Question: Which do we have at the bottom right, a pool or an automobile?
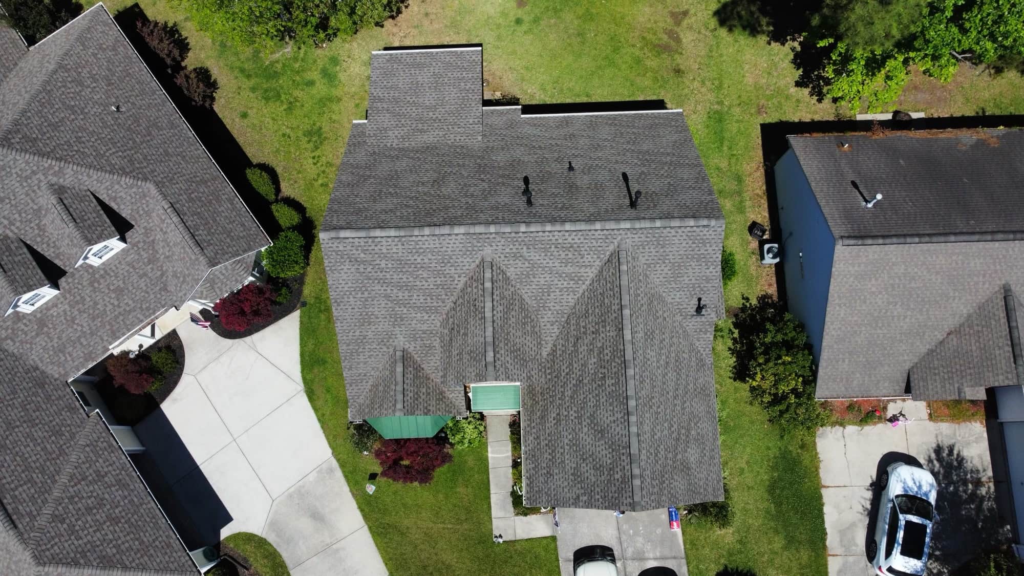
automobile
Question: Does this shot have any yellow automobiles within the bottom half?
No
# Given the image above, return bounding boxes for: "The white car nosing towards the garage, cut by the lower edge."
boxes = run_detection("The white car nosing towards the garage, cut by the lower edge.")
[571,555,623,576]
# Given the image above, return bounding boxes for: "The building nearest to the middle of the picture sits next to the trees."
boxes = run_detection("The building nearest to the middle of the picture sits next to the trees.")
[320,46,724,512]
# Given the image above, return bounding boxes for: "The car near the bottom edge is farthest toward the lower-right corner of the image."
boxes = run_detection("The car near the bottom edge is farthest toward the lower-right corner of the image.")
[867,457,945,576]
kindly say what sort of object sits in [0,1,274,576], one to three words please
house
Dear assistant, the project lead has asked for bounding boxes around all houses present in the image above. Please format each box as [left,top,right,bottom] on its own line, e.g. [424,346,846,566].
[776,126,1024,544]
[0,1,274,576]
[320,46,724,512]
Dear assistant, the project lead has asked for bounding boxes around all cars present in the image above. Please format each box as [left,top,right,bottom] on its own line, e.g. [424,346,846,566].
[571,555,623,576]
[867,457,945,576]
